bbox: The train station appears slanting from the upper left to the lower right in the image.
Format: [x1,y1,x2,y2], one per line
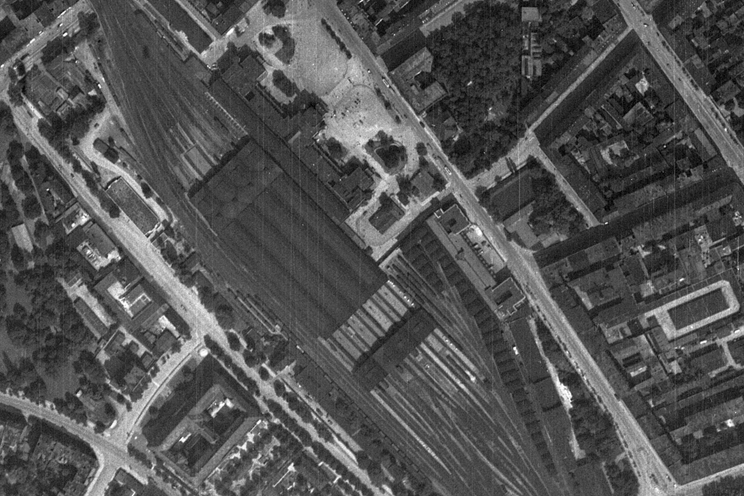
[157,31,513,474]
